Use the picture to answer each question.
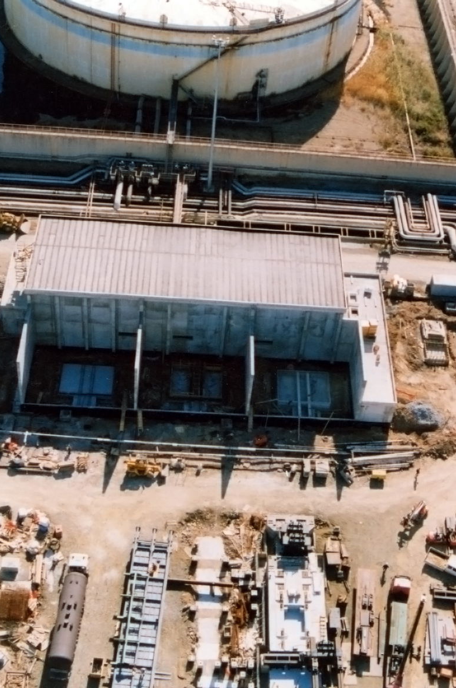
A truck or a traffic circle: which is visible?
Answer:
truck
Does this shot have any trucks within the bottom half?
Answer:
Yes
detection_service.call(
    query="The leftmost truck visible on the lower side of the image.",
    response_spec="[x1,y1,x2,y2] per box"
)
[46,549,91,678]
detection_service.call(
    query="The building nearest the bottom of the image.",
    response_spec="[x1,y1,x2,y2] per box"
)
[0,214,398,431]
